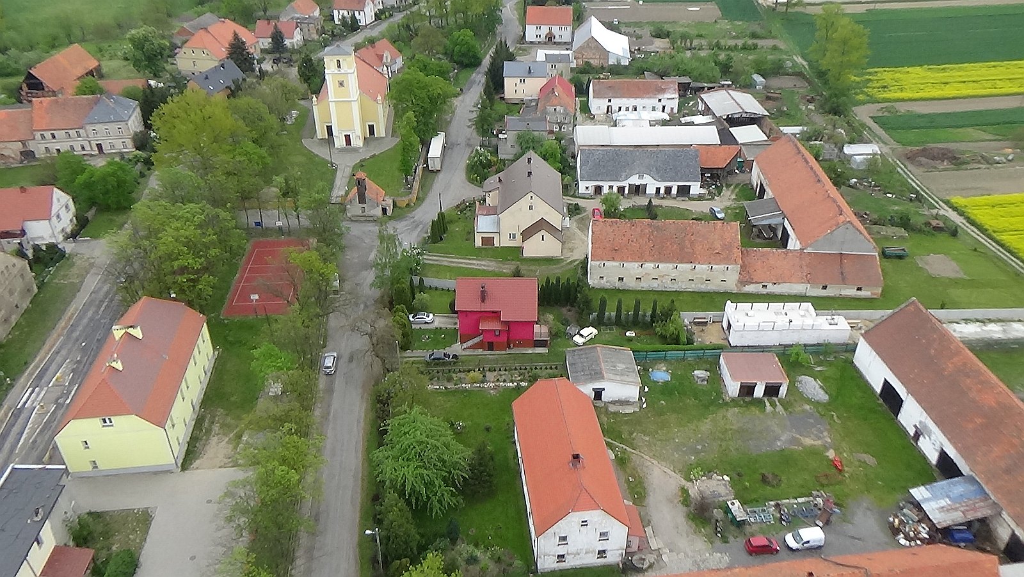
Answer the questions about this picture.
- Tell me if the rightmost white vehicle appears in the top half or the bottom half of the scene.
bottom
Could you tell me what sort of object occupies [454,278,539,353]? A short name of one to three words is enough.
house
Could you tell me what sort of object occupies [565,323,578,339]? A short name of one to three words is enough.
vehicle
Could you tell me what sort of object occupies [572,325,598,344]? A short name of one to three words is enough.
car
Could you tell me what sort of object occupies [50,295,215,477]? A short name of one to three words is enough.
building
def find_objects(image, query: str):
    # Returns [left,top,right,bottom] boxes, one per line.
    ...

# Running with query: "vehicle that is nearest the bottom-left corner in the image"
[323,355,338,376]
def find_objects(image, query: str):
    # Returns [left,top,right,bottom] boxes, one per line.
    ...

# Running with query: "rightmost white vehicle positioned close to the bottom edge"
[784,524,828,552]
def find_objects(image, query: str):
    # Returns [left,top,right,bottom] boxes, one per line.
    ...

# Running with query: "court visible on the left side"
[222,237,312,315]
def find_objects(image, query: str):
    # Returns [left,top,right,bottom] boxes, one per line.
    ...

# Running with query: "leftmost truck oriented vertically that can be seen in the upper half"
[428,127,449,168]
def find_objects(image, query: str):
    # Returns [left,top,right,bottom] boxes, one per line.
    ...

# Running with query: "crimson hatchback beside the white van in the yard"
[744,537,782,554]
